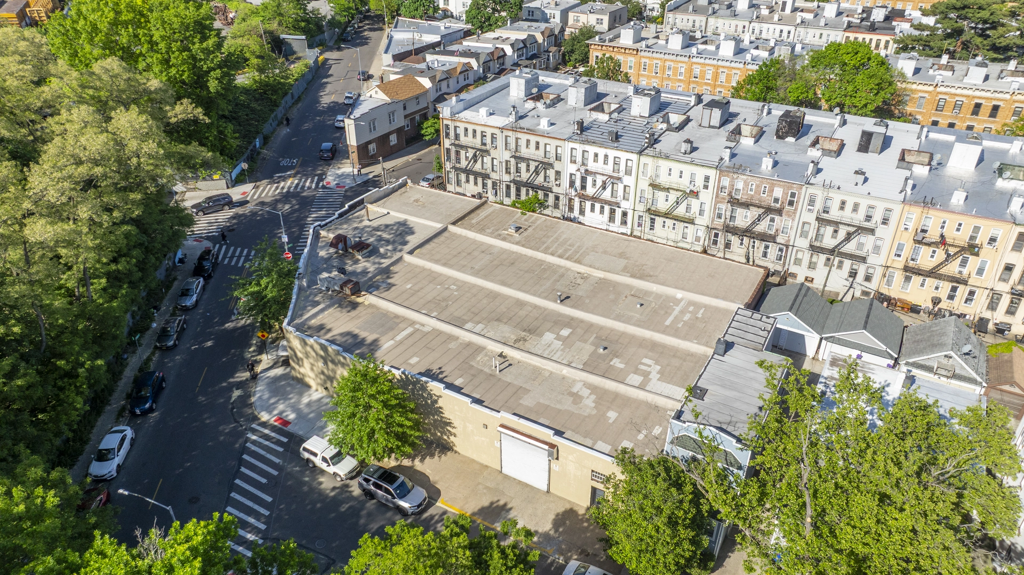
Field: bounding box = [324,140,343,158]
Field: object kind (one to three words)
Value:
car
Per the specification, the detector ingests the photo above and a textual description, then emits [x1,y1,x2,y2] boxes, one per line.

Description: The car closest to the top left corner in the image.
[188,192,234,213]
